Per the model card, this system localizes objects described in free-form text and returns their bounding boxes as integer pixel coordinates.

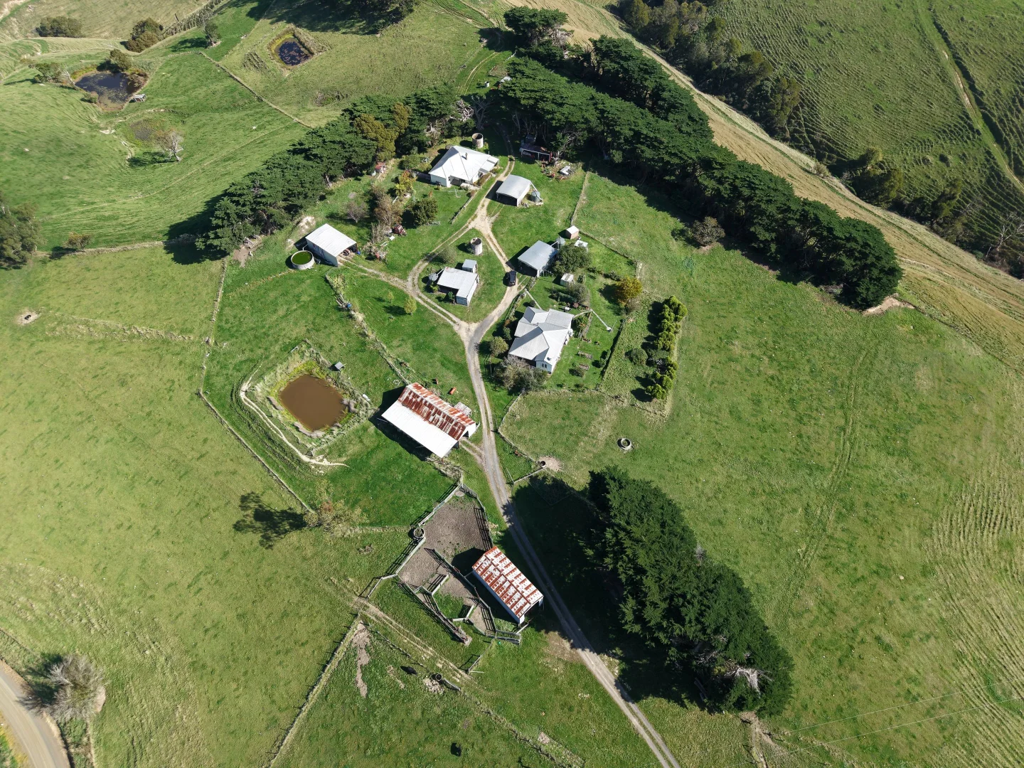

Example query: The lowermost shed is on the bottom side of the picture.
[471,546,545,623]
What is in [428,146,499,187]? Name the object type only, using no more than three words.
house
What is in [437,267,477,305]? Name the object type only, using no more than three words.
shed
